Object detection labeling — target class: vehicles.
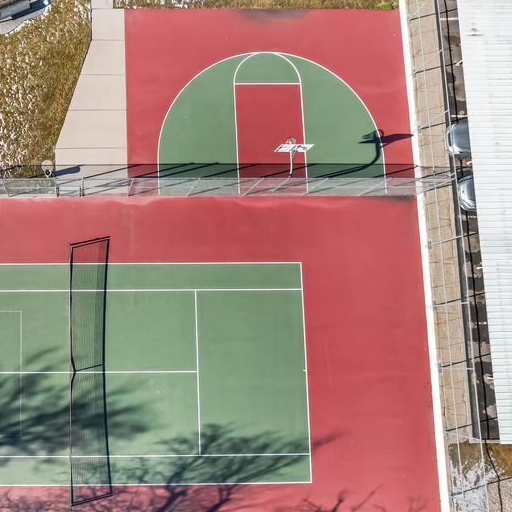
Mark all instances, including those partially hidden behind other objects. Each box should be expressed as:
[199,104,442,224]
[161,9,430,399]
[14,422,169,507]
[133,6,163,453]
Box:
[457,176,477,213]
[447,121,472,158]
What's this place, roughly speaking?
sports ground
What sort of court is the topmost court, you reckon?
basketball court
